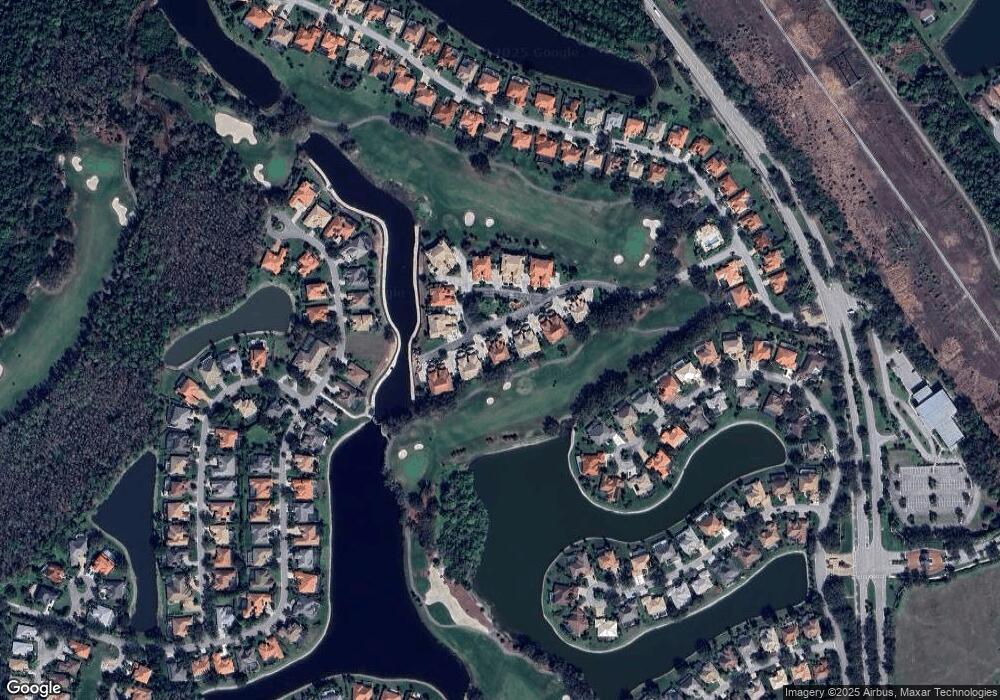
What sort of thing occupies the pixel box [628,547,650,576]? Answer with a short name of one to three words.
house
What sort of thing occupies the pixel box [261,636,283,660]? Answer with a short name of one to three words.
house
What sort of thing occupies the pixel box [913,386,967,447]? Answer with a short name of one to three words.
building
